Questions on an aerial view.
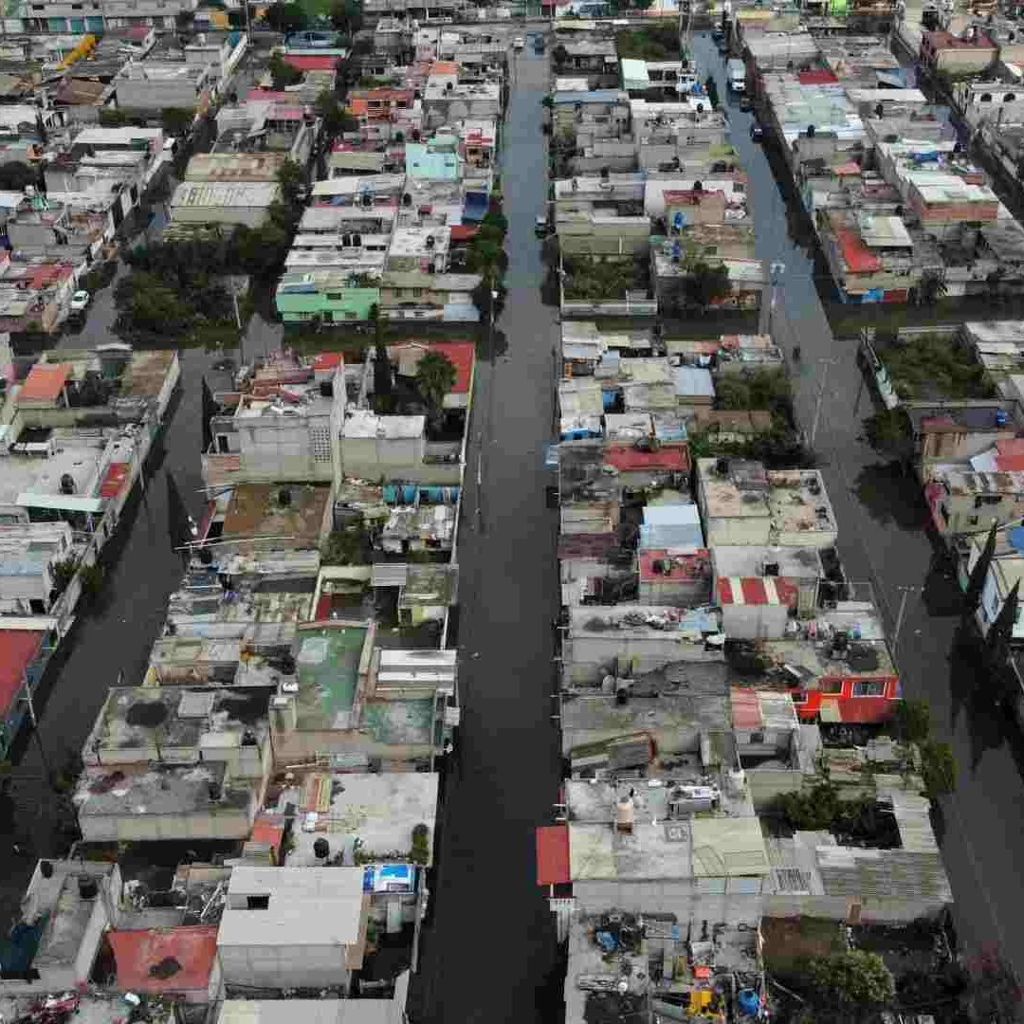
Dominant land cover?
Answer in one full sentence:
Most of the picture is covered by buildings.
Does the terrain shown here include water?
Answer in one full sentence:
Yes, there's water in this view.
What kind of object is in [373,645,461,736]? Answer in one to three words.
house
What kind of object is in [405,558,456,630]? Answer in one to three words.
house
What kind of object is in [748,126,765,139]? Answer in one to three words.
vehicle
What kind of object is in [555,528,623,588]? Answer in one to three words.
shed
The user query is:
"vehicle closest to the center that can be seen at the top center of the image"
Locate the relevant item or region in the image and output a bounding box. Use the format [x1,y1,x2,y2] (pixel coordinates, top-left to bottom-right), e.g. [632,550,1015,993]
[535,214,548,231]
